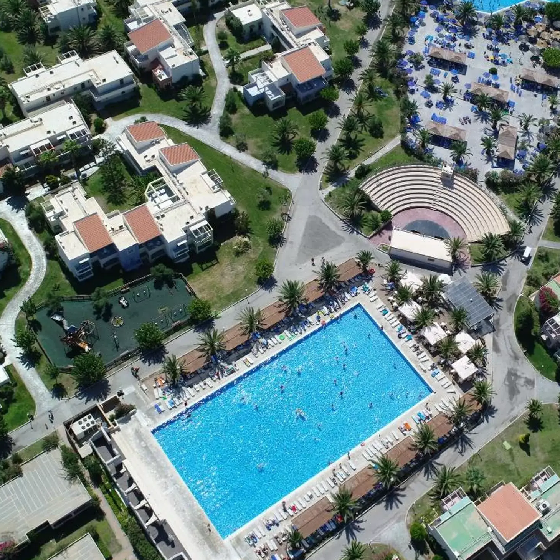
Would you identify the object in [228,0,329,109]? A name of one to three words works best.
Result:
house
